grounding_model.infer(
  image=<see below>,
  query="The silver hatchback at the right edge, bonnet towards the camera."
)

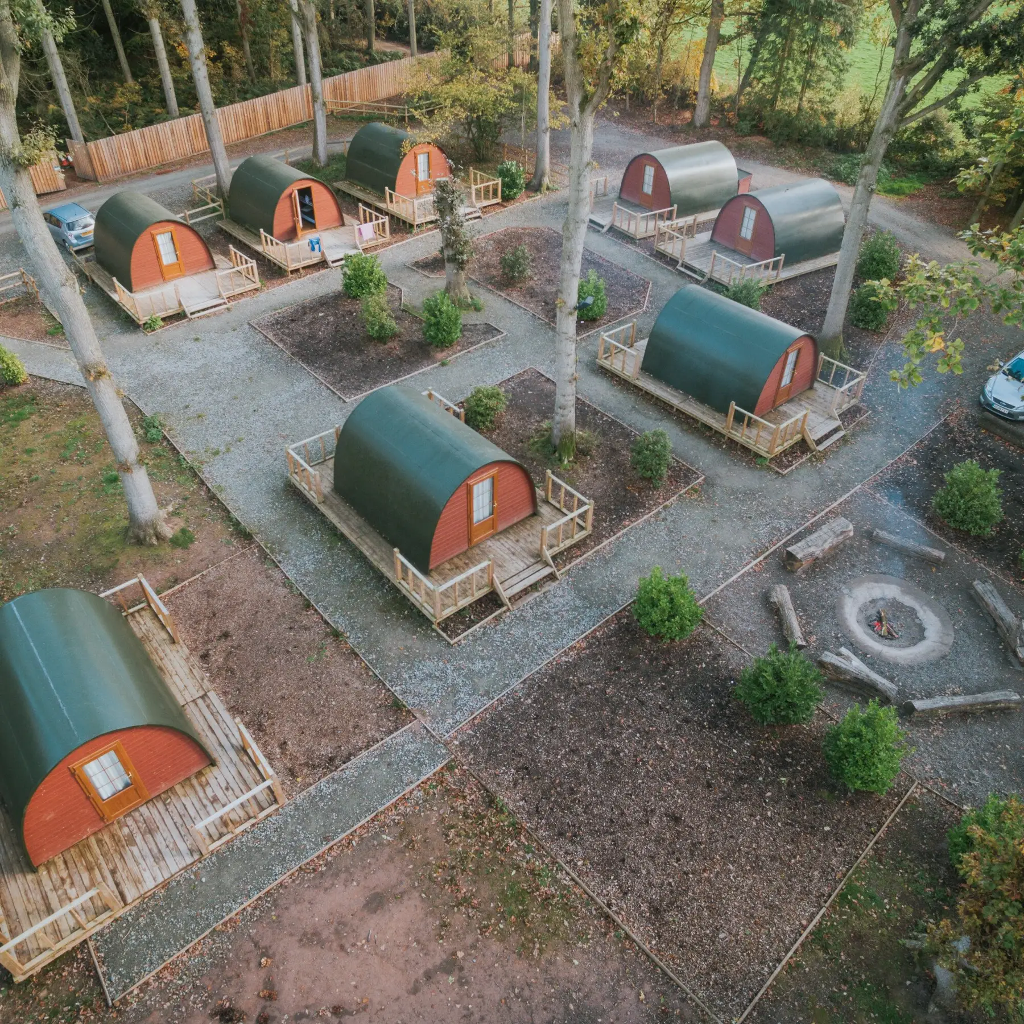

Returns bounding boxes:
[979,353,1024,422]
